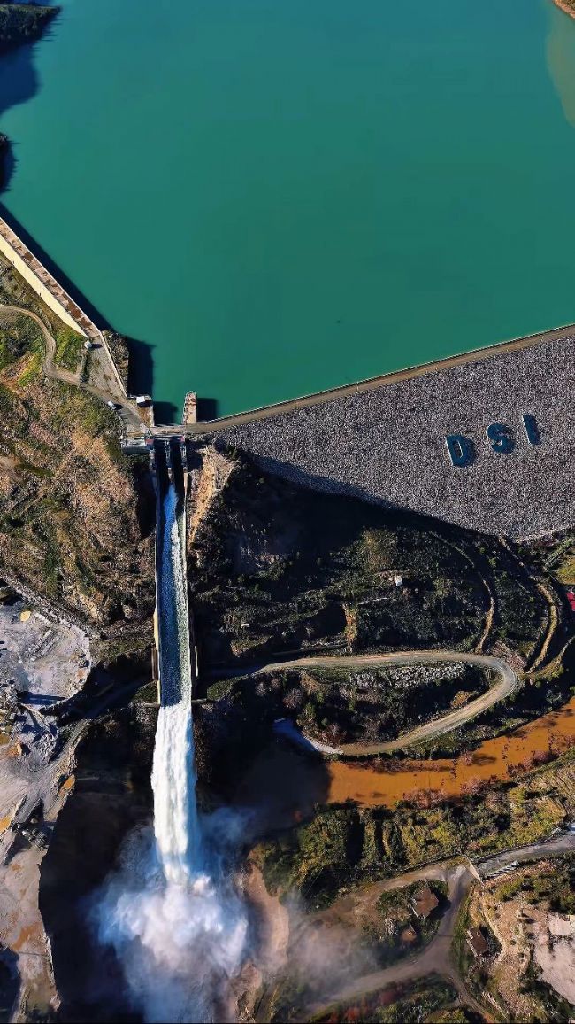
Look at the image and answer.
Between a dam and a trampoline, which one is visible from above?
dam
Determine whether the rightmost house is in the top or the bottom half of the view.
bottom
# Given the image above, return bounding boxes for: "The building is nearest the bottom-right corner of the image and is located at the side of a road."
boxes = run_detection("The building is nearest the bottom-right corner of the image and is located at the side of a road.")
[464,925,495,961]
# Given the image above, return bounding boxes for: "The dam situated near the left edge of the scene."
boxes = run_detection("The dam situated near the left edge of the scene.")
[0,219,104,339]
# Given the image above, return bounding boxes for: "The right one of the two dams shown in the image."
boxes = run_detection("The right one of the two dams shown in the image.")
[193,326,575,541]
